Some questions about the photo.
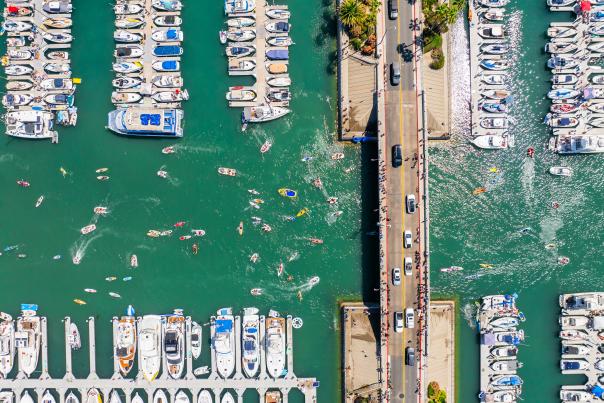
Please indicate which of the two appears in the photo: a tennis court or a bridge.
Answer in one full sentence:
It is a bridge that can be seen here.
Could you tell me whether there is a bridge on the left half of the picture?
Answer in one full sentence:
No, on the left half of the picture there is no bridge.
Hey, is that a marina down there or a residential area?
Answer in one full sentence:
This image shows a marina.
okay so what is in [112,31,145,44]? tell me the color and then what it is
white boat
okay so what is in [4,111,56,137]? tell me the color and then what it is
white boat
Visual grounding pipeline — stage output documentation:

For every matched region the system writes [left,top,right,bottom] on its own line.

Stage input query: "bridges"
[377,90,431,356]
